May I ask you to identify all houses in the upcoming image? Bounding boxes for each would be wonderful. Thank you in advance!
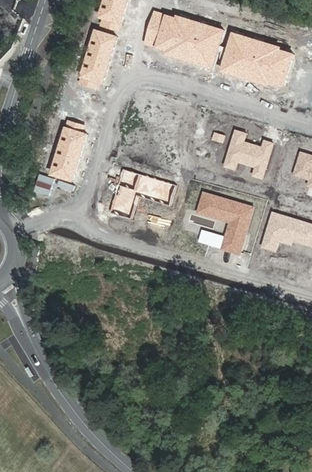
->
[262,212,312,255]
[224,129,274,178]
[144,10,224,72]
[78,28,117,90]
[110,168,177,218]
[294,152,312,185]
[220,32,295,87]
[97,0,129,31]
[196,191,254,254]
[48,120,87,182]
